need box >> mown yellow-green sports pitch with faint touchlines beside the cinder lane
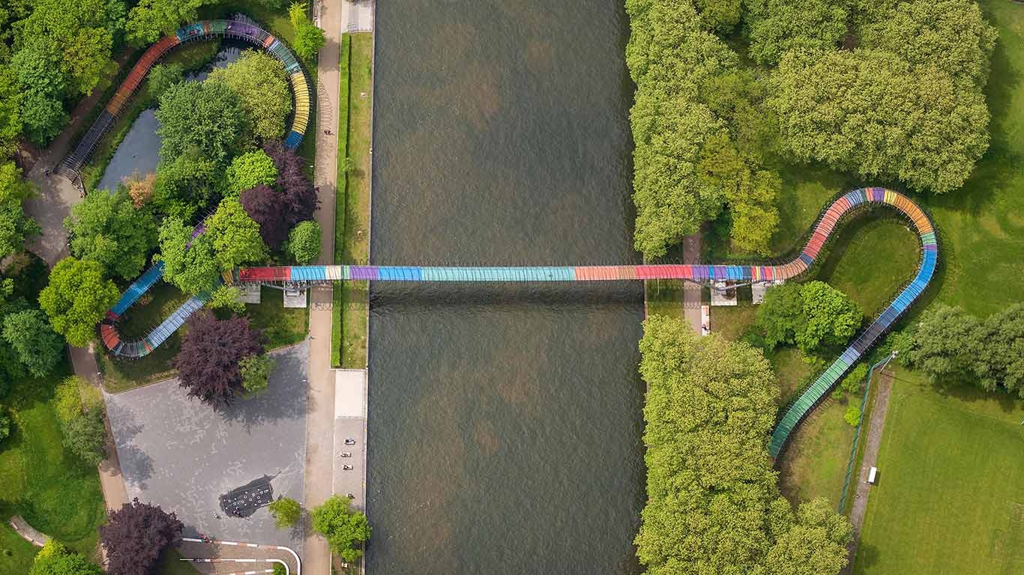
[858,376,1024,575]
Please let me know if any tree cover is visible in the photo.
Yes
